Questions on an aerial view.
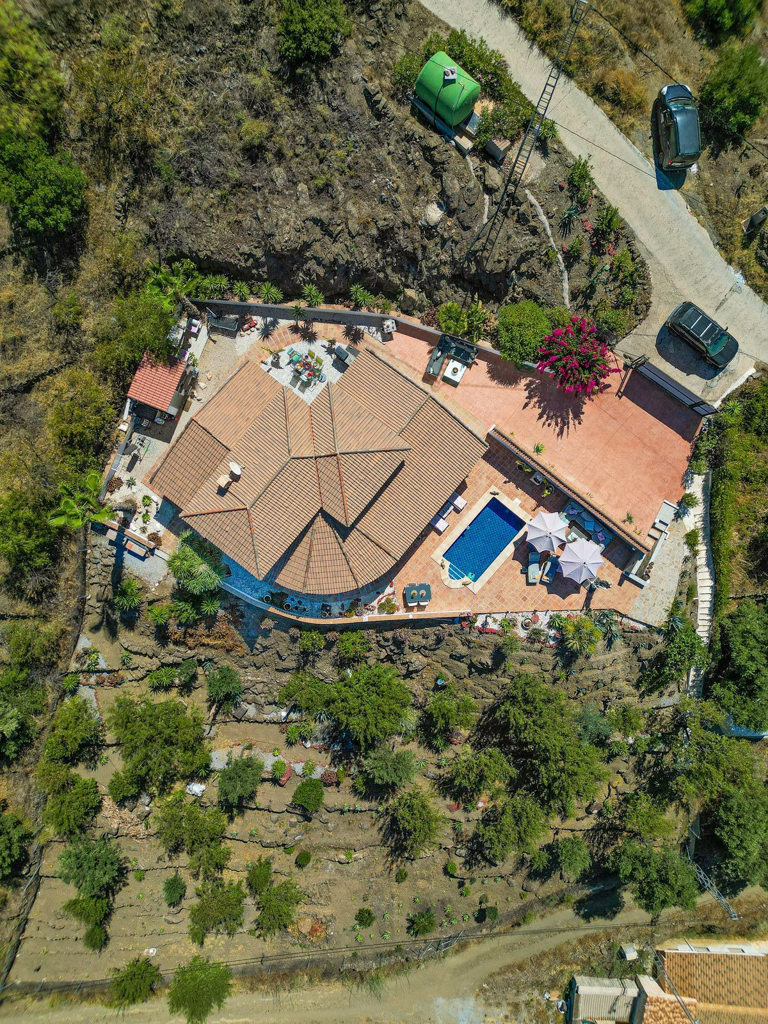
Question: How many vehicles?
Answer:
2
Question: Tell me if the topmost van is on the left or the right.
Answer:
right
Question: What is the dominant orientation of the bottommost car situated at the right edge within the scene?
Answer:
on a diagonal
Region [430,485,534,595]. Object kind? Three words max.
swimming pool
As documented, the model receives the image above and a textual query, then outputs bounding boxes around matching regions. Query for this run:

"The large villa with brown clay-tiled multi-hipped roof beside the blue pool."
[149,348,489,594]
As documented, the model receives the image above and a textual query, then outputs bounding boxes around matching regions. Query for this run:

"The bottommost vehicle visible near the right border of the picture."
[661,299,741,369]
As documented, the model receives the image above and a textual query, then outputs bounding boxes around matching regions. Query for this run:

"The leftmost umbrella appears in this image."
[527,513,567,553]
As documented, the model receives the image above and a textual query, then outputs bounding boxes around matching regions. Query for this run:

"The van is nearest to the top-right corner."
[659,86,702,165]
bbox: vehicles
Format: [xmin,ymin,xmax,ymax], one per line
[659,86,702,165]
[661,299,741,369]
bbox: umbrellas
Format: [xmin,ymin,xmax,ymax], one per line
[558,540,603,584]
[527,513,567,553]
